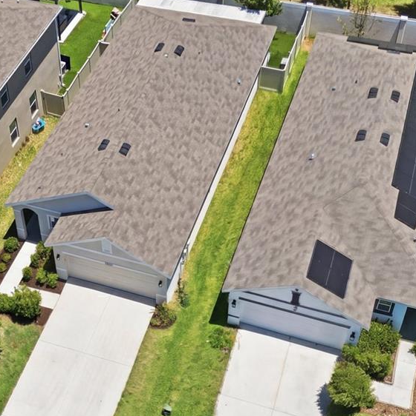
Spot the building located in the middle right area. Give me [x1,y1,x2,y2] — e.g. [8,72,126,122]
[221,32,416,355]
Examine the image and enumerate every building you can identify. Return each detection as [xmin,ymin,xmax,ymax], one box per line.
[221,32,416,355]
[6,5,280,308]
[0,0,67,173]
